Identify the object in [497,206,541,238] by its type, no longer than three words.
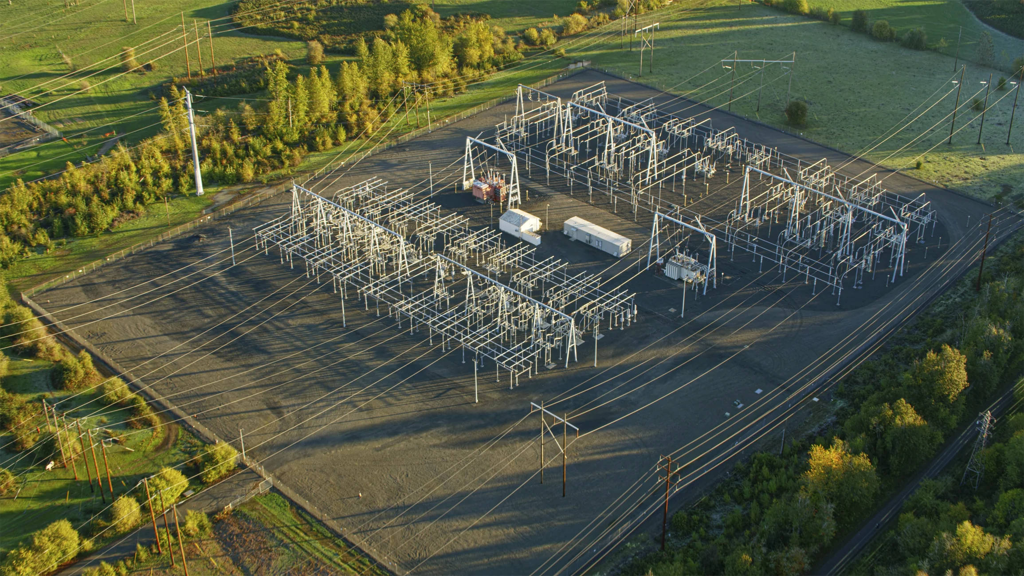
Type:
shed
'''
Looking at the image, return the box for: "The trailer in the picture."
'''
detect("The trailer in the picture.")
[564,216,631,257]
